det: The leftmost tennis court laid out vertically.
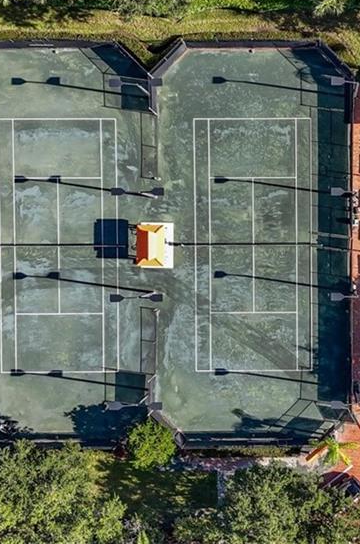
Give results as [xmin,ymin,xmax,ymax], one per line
[0,48,157,436]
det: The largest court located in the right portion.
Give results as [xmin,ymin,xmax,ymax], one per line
[158,47,351,437]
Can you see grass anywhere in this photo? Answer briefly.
Yes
